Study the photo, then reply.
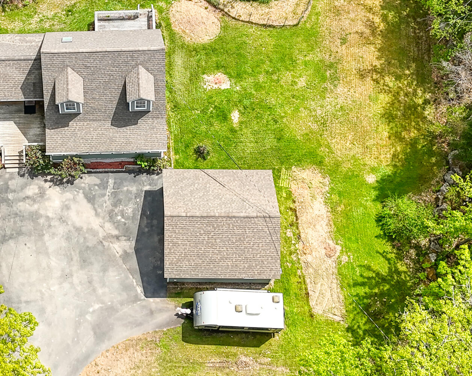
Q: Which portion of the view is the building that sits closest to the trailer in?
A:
center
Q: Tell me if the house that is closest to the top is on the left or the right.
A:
left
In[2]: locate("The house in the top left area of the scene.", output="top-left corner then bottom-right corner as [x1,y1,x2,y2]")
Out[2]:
[0,29,168,163]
